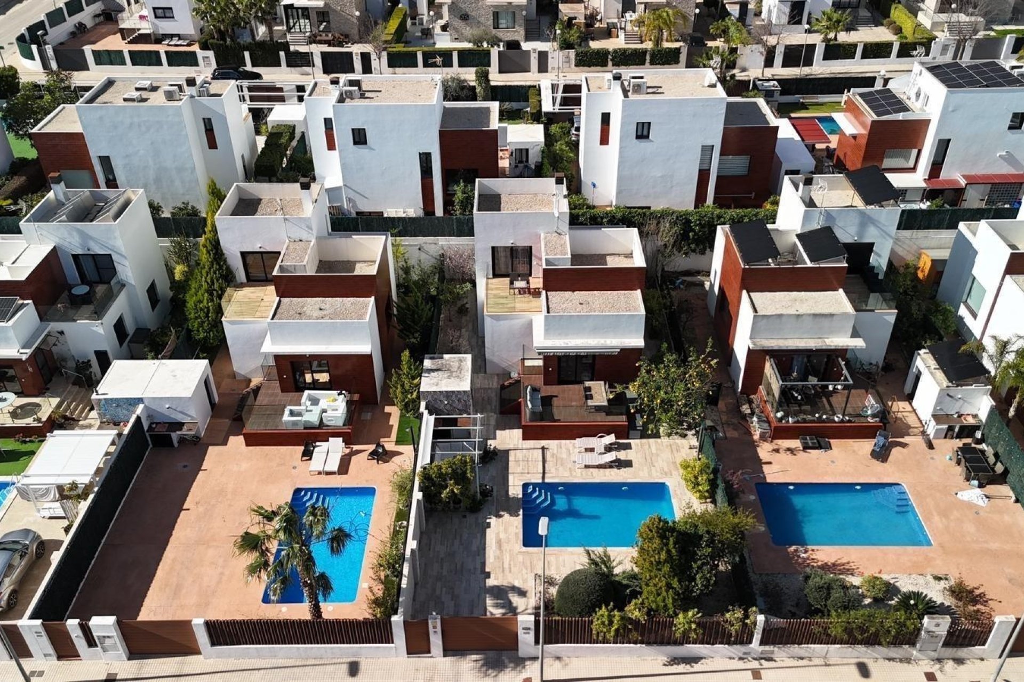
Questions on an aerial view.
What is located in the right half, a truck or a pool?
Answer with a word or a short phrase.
pool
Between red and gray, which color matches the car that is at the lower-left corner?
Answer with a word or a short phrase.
gray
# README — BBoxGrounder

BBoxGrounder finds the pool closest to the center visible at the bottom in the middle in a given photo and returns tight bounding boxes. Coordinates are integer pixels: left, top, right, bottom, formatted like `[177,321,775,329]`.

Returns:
[520,482,678,550]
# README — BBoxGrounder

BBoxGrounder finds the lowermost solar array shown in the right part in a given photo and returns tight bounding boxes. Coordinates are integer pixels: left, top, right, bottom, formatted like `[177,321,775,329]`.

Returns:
[857,90,917,118]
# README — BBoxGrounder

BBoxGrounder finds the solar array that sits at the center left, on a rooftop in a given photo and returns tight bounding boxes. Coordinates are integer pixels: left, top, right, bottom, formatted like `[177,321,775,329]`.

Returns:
[0,299,26,329]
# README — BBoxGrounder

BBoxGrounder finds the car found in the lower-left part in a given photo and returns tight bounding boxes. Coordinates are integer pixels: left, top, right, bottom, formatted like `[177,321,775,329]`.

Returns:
[0,530,42,613]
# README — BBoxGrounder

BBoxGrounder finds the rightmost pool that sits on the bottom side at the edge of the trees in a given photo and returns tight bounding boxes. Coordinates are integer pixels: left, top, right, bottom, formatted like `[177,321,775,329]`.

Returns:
[754,482,935,548]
